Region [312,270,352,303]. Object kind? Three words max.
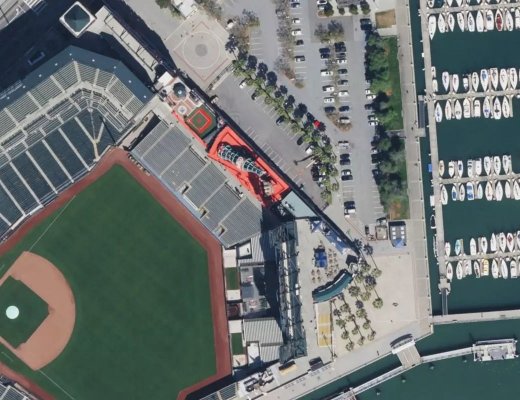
building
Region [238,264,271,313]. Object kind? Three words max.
building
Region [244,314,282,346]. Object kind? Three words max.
shed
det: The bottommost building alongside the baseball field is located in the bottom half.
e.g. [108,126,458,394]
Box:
[194,361,282,400]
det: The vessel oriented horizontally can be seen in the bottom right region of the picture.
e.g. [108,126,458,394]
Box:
[472,337,518,362]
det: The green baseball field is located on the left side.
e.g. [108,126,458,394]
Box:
[0,147,231,400]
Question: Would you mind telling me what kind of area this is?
sports ground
